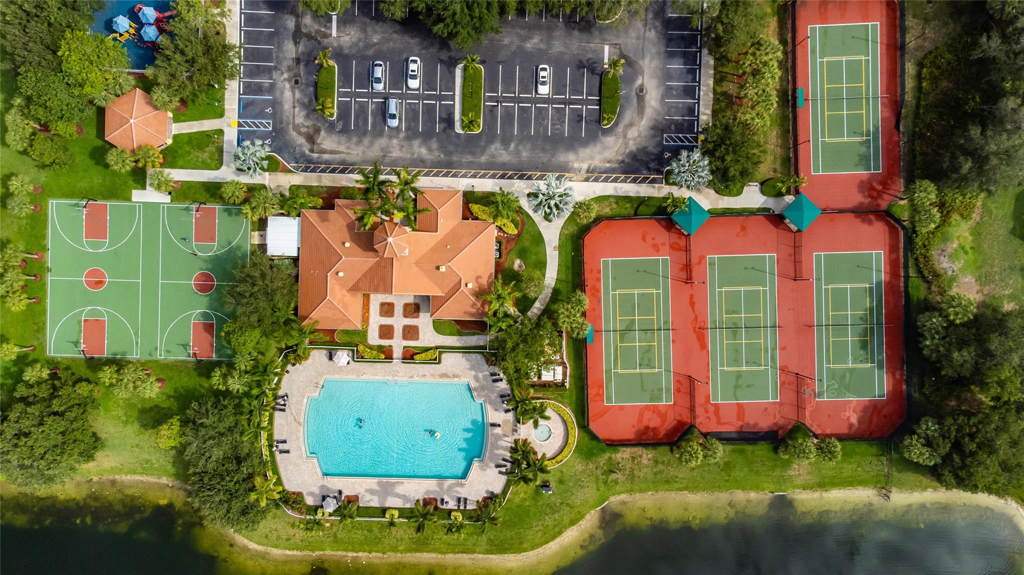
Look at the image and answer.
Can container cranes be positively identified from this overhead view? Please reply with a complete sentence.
No, there isn't any container crane down there.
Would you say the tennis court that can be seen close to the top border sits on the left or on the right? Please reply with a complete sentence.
The tennis court that can be seen close to the top border sits on the right side.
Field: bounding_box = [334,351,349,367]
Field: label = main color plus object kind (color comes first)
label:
white umbrella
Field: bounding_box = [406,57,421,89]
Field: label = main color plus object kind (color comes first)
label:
white car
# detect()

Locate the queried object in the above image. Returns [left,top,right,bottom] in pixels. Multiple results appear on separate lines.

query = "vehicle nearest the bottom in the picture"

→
[385,96,399,128]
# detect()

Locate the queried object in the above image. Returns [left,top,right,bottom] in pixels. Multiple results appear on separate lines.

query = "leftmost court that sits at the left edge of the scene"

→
[46,199,151,359]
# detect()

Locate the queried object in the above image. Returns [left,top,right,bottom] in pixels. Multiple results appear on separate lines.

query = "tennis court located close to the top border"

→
[789,0,901,211]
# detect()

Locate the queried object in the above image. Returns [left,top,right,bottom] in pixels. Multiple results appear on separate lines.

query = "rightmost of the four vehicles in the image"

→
[537,65,550,95]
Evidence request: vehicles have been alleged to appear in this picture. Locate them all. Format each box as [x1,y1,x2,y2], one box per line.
[371,60,385,91]
[406,57,421,89]
[537,65,550,95]
[385,96,399,128]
